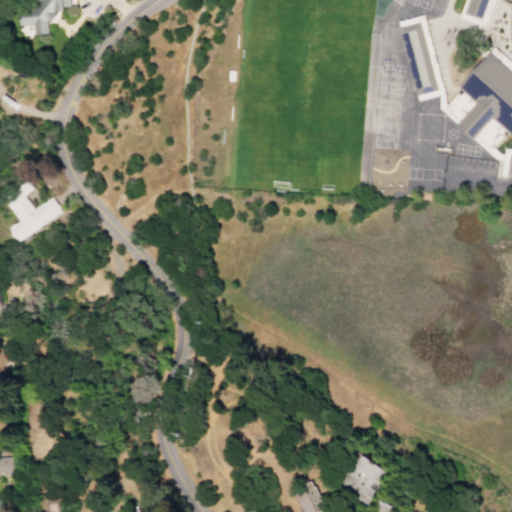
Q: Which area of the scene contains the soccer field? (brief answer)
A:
top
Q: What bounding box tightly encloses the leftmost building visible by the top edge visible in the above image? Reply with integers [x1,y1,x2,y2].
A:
[19,0,62,34]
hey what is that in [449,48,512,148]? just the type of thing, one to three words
building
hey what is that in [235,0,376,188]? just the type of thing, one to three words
soccer field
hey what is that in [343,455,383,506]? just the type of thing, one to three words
house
